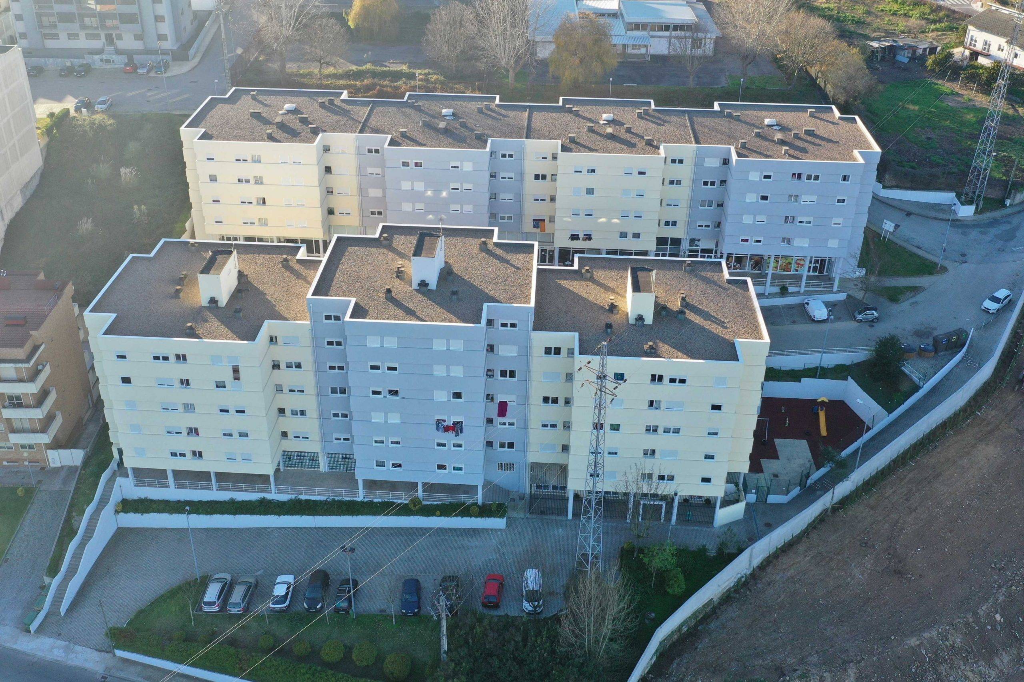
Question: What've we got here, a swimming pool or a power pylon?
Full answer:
The one in the frame is a power pylon.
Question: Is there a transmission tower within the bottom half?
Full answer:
Yes, a transmission tower shows up within the bottom half.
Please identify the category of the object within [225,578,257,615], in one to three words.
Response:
car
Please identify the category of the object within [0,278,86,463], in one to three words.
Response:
building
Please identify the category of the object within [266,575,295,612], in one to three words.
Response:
car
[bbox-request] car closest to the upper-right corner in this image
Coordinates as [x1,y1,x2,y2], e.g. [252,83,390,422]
[980,291,1015,310]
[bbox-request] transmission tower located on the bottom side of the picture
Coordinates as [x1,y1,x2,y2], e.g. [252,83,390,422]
[574,340,626,574]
